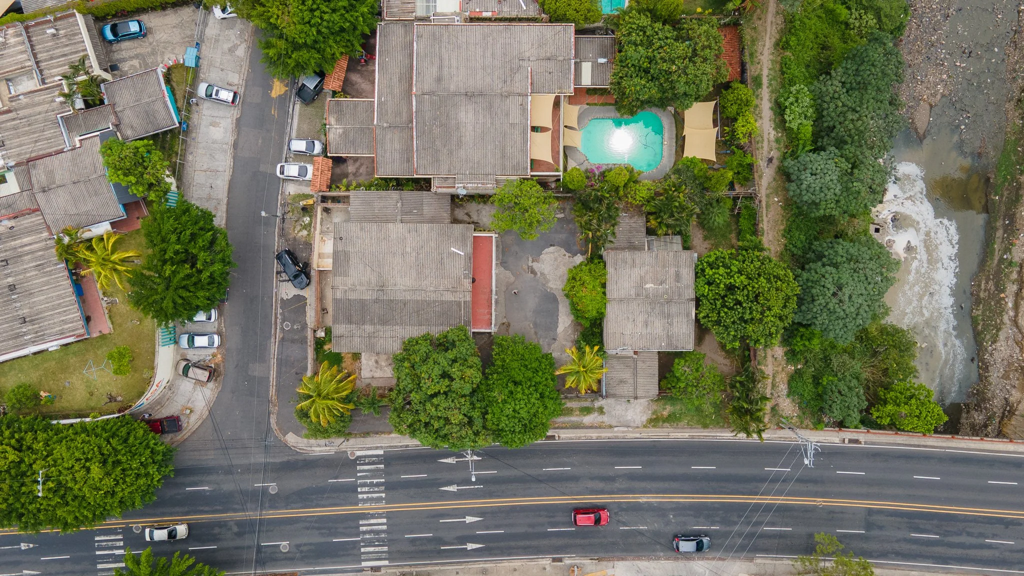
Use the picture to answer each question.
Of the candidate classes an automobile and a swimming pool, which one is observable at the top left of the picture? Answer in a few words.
automobile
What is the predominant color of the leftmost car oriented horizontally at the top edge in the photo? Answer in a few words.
blue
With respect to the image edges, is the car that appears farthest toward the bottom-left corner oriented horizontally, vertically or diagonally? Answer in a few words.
horizontally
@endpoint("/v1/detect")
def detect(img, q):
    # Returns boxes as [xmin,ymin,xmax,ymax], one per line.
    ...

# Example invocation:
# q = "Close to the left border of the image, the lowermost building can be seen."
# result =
[0,209,96,363]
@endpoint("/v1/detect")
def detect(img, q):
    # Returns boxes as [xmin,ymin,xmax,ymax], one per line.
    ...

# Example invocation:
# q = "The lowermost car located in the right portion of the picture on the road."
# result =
[673,532,709,553]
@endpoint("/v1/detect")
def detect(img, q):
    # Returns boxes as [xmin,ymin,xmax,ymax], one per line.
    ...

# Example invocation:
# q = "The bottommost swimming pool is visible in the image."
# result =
[565,106,676,178]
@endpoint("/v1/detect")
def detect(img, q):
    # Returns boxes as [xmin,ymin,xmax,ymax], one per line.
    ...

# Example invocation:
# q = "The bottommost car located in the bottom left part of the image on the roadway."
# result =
[146,521,190,542]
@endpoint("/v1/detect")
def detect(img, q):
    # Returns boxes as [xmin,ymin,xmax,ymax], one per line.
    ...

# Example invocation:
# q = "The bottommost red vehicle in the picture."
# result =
[572,506,608,527]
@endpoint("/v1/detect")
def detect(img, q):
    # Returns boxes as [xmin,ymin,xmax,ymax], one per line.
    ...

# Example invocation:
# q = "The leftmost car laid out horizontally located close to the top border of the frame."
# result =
[104,20,149,42]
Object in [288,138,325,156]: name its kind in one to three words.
car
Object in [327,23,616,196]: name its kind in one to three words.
house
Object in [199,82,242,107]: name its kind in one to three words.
car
